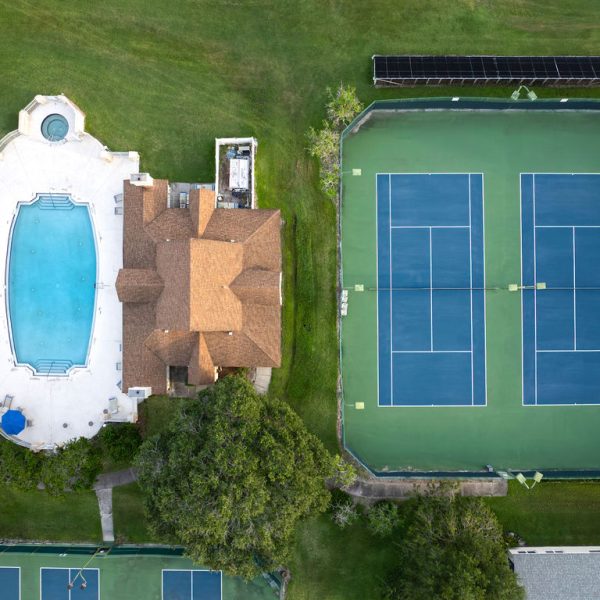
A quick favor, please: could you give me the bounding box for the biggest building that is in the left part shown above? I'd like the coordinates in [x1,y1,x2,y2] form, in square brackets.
[115,171,282,401]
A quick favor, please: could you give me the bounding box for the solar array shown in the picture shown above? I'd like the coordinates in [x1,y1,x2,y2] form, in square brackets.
[371,54,600,87]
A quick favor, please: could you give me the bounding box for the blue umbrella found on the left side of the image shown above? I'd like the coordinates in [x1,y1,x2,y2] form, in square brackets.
[1,408,28,434]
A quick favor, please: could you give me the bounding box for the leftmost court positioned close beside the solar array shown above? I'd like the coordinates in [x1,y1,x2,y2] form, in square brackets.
[377,173,486,407]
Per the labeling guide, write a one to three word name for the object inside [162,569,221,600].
sports court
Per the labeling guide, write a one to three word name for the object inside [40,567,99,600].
sports court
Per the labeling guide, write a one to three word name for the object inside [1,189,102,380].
swimming pool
